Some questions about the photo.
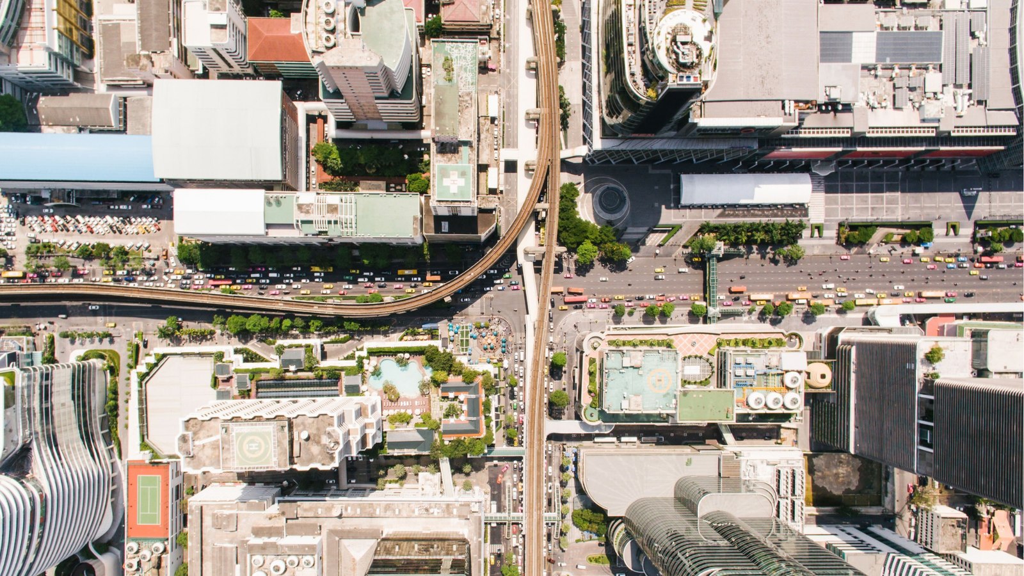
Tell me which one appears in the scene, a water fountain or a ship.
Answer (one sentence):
Visible in the photo is a water fountain.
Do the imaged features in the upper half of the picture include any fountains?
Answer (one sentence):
Yes, there is a fountain in the upper half of the picture.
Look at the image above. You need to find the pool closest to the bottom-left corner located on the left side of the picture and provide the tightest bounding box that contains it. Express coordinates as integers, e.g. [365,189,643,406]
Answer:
[369,359,423,398]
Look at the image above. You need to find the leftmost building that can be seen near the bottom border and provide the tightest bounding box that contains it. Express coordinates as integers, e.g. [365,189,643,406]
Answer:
[0,357,113,576]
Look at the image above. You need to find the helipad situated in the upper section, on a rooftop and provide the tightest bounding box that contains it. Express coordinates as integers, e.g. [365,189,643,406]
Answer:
[437,166,472,202]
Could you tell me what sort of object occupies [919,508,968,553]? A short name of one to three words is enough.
building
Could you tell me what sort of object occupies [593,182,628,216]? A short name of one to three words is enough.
fountain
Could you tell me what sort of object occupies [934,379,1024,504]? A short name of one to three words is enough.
building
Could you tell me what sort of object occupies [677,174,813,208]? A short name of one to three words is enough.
tent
